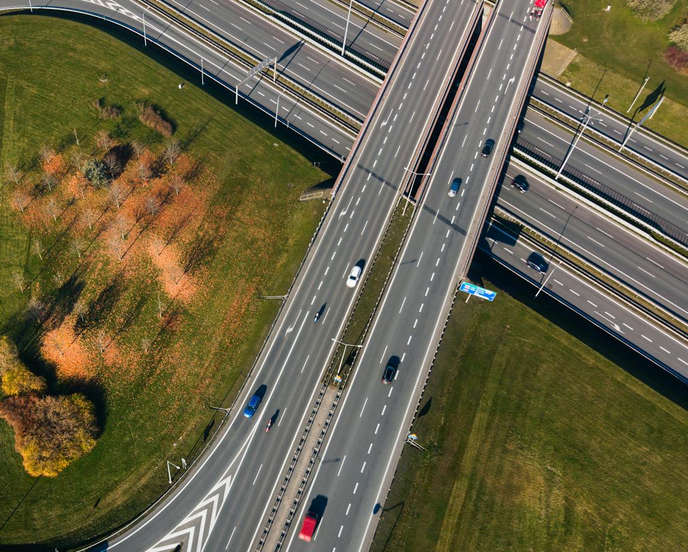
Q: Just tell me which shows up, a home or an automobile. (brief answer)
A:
automobile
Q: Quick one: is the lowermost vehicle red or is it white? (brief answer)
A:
red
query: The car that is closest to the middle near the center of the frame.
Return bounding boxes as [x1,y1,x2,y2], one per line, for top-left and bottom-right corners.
[348,266,364,287]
